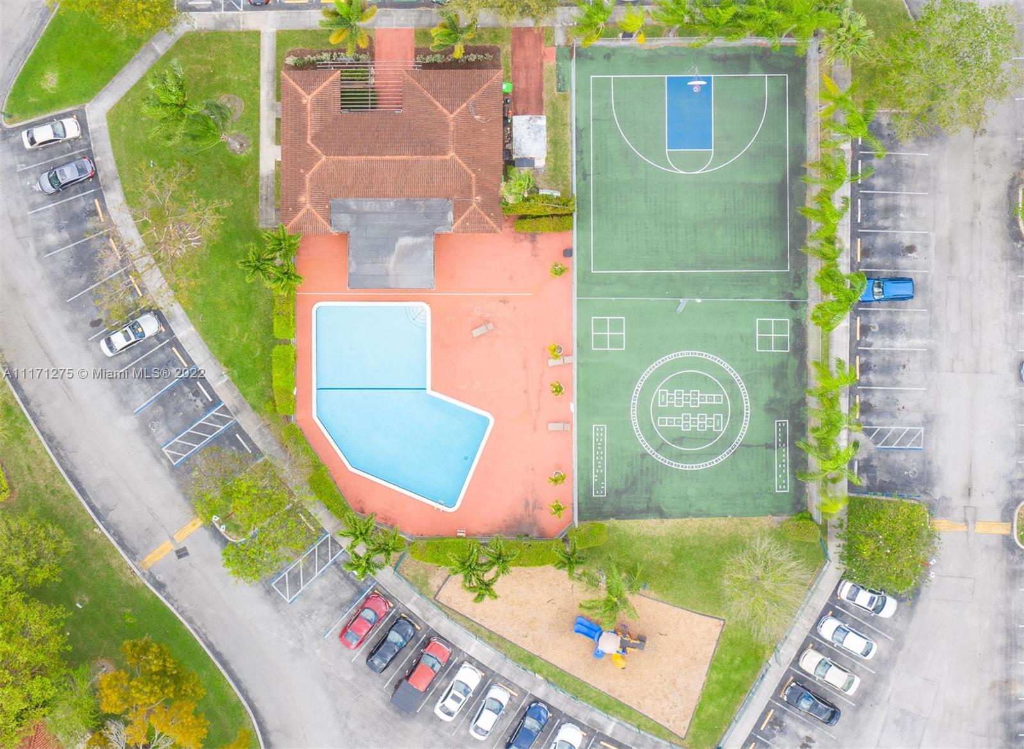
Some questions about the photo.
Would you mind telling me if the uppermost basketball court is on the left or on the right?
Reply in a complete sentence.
The uppermost basketball court appears in the right half of the scene.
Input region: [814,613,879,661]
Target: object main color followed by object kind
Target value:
white car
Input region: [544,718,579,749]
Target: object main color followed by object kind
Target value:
white car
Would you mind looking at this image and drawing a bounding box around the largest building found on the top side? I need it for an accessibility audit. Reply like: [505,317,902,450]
[280,62,503,289]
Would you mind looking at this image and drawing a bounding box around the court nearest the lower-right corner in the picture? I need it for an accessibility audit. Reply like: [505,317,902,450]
[576,298,808,521]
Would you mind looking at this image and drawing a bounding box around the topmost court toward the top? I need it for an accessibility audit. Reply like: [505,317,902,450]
[576,47,808,299]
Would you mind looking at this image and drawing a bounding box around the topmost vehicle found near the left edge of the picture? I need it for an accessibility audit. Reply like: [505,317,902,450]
[22,116,84,150]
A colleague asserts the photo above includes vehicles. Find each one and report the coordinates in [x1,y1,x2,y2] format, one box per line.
[434,659,483,721]
[432,0,449,5]
[835,578,897,616]
[38,158,99,195]
[366,613,416,672]
[795,648,862,698]
[390,632,451,715]
[856,276,913,304]
[22,116,84,150]
[468,681,511,741]
[544,718,579,749]
[97,310,165,358]
[502,697,546,749]
[814,613,879,661]
[780,679,843,728]
[339,590,389,649]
